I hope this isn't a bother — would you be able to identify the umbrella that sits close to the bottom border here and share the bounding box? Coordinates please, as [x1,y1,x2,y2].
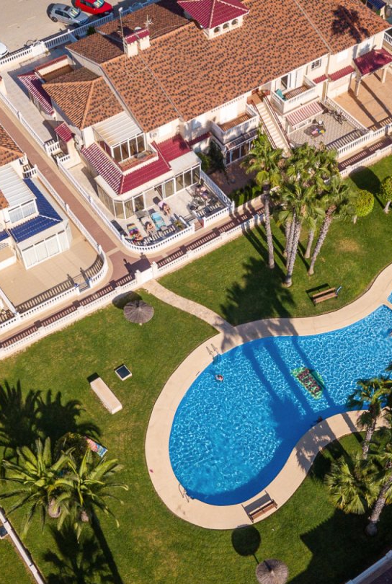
[251,556,293,584]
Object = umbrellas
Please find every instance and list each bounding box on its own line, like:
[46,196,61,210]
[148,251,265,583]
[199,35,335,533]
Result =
[122,299,155,329]
[251,556,293,584]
